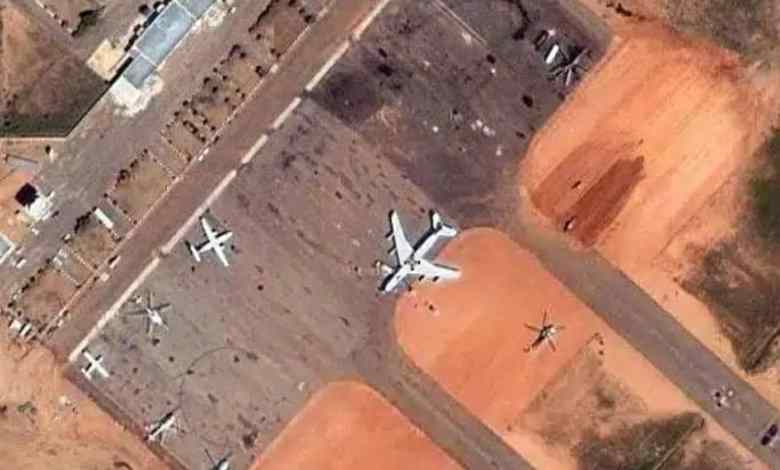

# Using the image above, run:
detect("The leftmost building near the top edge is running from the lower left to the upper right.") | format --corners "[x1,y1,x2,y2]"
[124,0,211,88]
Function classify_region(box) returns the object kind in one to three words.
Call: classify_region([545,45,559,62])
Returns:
vehicle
